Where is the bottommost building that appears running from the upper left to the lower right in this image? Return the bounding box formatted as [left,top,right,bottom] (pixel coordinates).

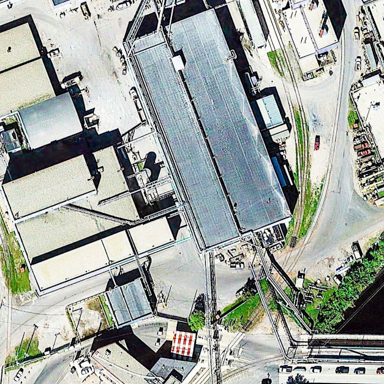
[92,343,156,384]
